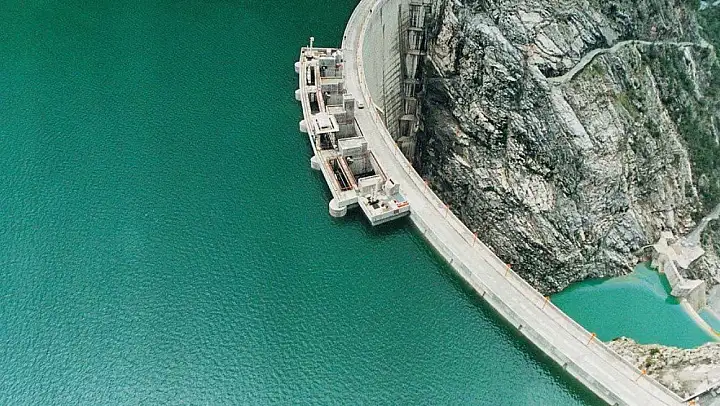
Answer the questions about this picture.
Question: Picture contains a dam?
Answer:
Yes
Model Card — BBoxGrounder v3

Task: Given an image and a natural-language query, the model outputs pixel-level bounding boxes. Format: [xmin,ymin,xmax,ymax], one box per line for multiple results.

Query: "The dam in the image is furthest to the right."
[637,234,720,337]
